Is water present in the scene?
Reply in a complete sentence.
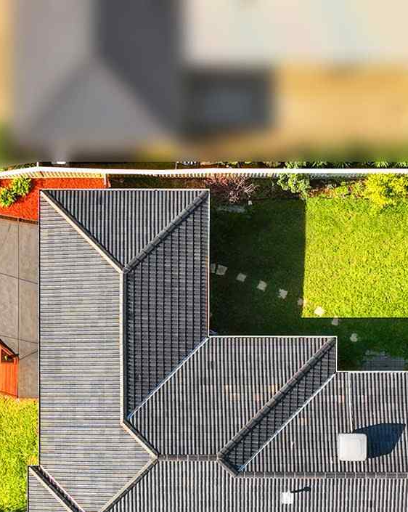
No, no water is visible.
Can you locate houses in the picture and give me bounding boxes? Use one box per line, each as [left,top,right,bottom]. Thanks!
[24,185,408,512]
[9,0,184,144]
[185,0,408,64]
